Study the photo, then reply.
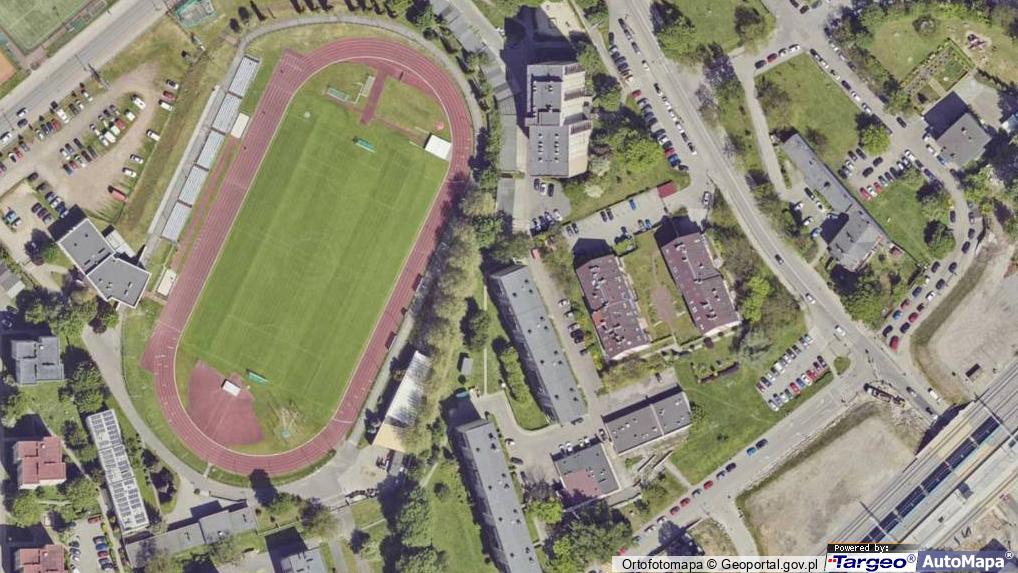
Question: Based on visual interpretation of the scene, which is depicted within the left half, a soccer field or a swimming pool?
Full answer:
What appears within the left half is a soccer field.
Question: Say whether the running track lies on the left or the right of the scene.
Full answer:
The running track appears in the left half of the scene.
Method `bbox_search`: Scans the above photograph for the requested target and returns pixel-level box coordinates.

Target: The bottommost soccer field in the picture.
[174,56,453,456]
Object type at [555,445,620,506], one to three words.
building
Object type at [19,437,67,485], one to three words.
house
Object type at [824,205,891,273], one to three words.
building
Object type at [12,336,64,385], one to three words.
house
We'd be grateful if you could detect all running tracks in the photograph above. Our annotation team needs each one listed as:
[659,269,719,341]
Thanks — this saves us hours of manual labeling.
[137,37,472,476]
